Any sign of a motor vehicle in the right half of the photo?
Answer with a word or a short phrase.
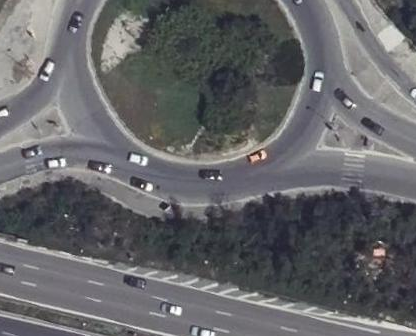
Yes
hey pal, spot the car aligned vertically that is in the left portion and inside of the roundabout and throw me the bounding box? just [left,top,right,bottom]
[70,12,82,34]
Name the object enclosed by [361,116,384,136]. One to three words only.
car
